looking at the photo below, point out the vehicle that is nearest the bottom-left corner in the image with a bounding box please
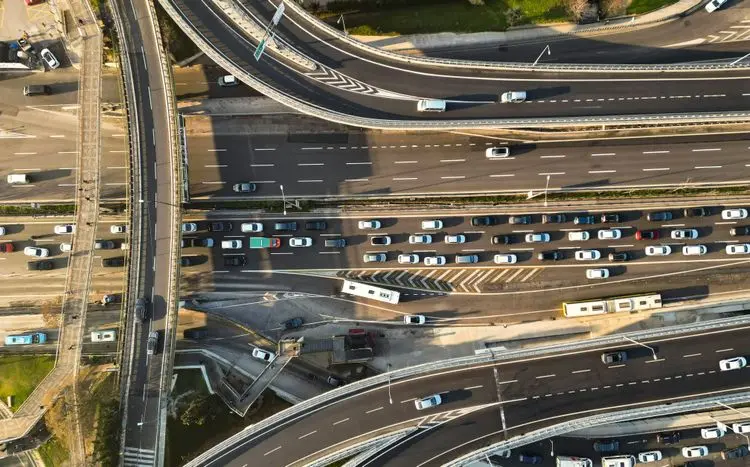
[2,332,50,345]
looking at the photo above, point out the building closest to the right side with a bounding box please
[301,326,376,363]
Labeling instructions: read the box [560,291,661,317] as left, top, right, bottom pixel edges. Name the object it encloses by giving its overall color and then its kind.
white bus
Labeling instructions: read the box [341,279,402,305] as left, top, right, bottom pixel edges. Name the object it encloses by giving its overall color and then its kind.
white bus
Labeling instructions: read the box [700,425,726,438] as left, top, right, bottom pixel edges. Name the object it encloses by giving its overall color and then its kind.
white vehicle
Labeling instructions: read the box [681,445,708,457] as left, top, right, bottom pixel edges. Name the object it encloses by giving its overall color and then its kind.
white vehicle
